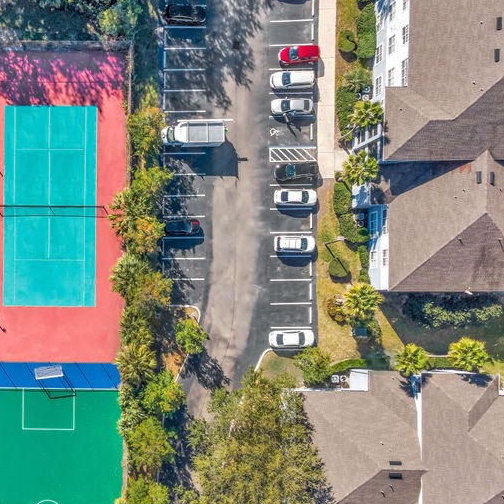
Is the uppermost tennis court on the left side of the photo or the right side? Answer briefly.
left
